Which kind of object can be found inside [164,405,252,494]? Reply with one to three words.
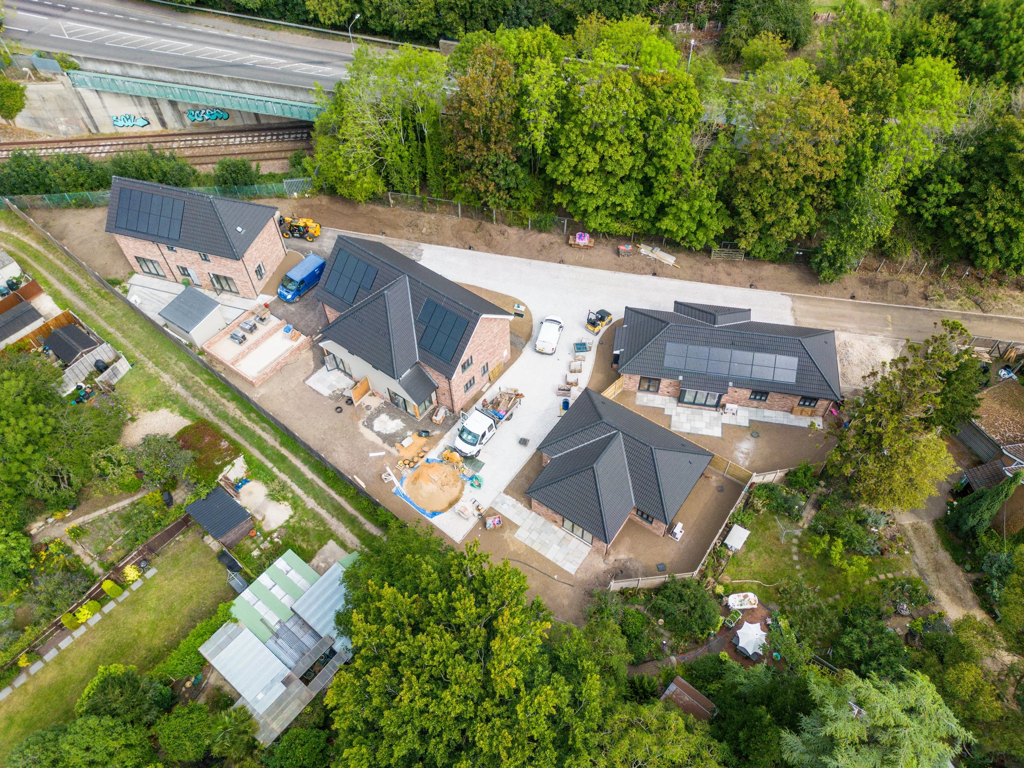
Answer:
shed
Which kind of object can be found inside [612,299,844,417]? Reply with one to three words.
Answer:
house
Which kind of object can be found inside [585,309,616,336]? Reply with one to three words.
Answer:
work vehicle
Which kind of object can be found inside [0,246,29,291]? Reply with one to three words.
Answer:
building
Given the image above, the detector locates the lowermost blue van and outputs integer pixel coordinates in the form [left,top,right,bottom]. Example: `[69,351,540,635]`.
[278,251,326,297]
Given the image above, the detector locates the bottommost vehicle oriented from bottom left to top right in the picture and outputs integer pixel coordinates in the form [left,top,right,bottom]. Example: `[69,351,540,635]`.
[448,375,523,457]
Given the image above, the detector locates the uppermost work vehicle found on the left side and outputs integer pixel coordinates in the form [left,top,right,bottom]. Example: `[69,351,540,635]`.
[279,214,322,241]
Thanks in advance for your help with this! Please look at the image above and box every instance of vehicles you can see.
[278,251,326,297]
[534,317,562,357]
[585,309,616,336]
[279,214,322,241]
[448,375,523,457]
